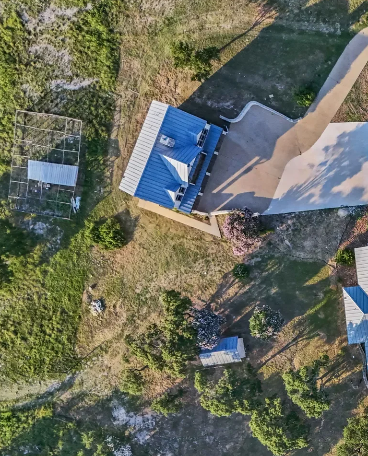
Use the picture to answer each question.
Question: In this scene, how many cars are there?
0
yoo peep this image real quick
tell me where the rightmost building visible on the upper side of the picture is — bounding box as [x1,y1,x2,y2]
[119,100,228,214]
